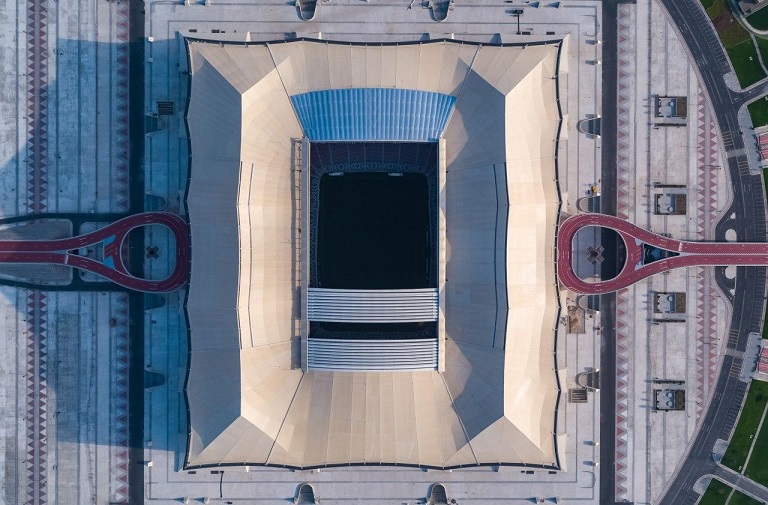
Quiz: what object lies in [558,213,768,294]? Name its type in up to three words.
bridge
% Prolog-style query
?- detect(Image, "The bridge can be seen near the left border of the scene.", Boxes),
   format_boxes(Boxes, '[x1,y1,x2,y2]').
[0,211,188,292]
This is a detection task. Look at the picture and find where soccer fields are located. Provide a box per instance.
[318,176,430,288]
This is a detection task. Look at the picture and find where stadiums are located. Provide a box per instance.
[179,33,568,472]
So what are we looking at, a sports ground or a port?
sports ground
